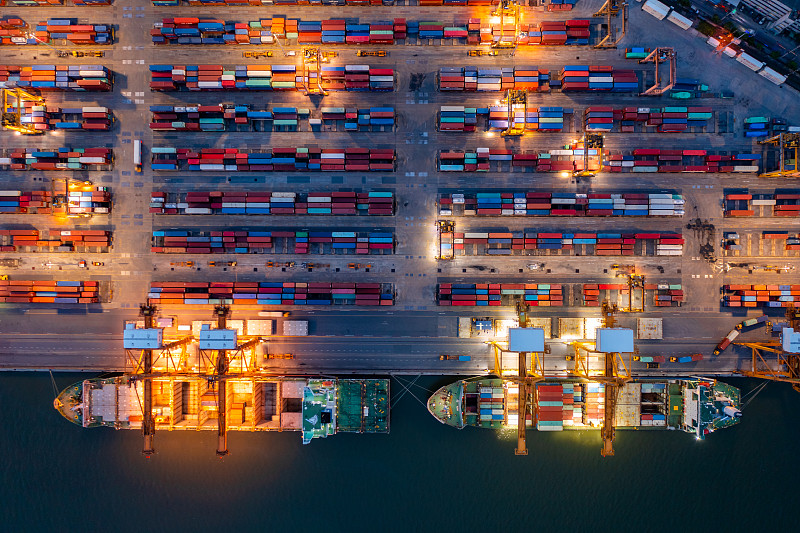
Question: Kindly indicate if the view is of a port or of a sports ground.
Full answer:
What you see here is a port.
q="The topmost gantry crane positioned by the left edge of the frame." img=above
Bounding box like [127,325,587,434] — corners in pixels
[3,88,41,135]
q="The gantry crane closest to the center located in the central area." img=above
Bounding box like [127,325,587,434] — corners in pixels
[433,219,458,261]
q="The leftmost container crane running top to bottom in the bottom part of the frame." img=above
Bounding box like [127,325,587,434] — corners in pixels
[123,297,191,454]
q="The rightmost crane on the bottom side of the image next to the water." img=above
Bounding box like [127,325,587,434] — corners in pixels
[739,301,800,395]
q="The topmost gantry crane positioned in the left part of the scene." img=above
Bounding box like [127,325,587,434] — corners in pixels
[302,48,328,98]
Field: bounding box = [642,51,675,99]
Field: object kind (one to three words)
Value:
container crane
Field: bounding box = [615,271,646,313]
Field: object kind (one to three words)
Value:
container crane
